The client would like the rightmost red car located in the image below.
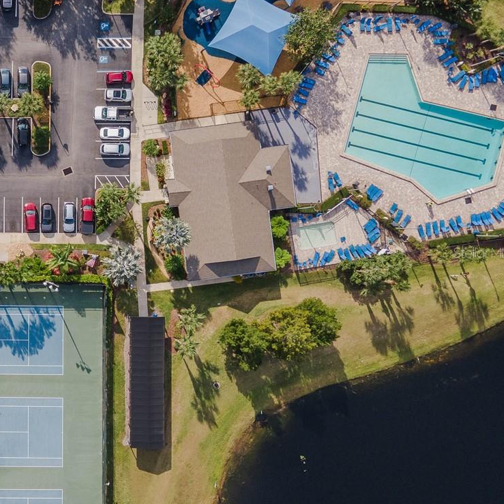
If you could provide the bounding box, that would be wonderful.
[104,71,133,85]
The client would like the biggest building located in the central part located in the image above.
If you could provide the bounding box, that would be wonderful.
[166,120,296,281]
